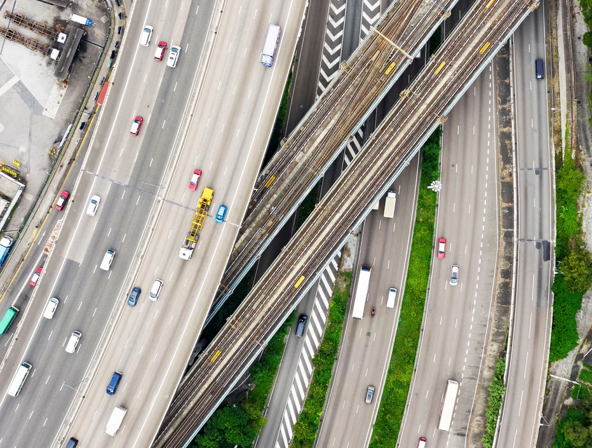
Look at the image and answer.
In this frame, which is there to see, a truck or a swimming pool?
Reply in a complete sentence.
Looking from above, you can make out a truck.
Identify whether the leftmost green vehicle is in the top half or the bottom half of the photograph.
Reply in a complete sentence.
The bottom half of the photo is where the leftmost green vehicle is.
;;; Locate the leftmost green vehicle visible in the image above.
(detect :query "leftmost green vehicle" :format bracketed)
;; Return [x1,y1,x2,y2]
[0,305,20,334]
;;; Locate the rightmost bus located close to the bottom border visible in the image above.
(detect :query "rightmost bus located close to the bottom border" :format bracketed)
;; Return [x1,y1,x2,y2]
[438,378,459,433]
